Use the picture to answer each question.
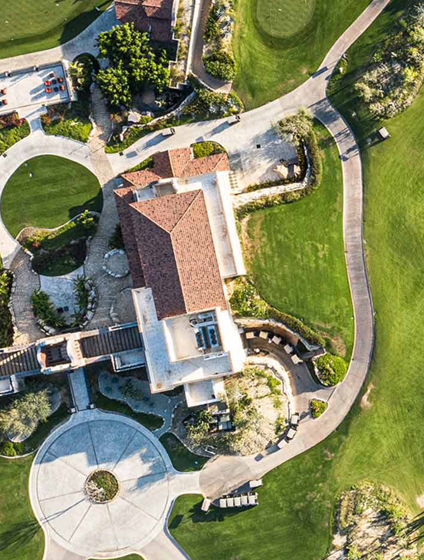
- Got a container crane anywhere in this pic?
No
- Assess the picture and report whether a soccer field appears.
No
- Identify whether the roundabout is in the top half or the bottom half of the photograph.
bottom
